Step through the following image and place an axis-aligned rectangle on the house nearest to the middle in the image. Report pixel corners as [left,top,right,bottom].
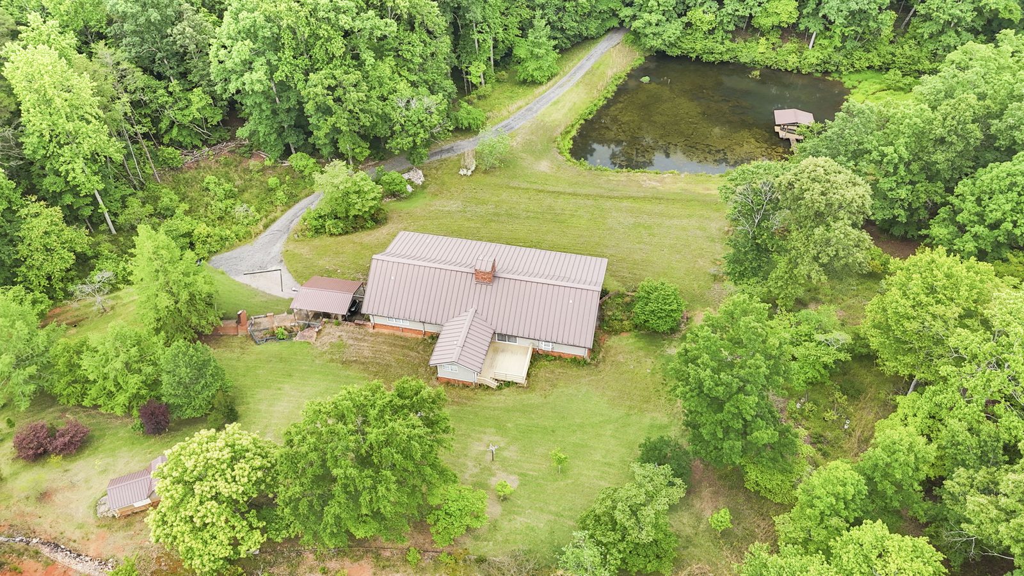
[362,230,606,392]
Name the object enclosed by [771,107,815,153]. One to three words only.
pier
